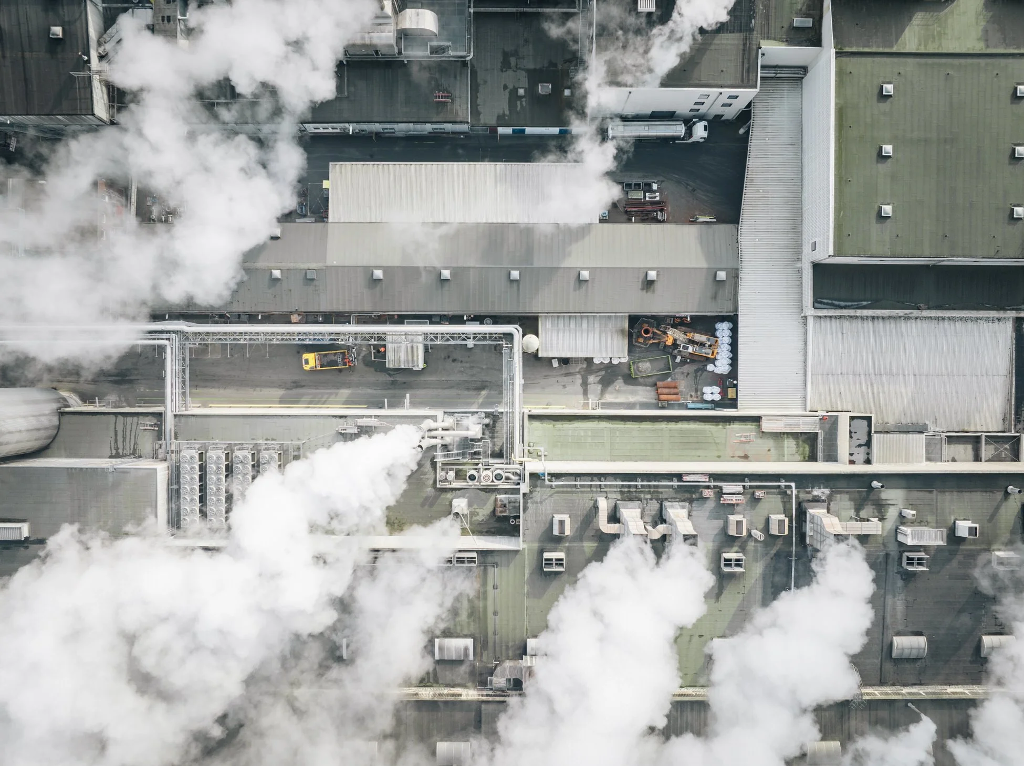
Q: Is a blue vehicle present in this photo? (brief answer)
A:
No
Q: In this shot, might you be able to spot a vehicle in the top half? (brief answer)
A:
Yes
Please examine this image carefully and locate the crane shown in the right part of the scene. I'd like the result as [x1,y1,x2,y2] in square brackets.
[644,329,724,364]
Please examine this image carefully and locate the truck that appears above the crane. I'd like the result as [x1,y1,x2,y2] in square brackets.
[604,120,710,143]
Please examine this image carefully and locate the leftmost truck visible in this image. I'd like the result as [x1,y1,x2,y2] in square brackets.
[300,343,360,373]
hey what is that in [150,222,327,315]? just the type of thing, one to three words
building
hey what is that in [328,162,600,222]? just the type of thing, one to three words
shed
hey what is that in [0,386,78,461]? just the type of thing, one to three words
silo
